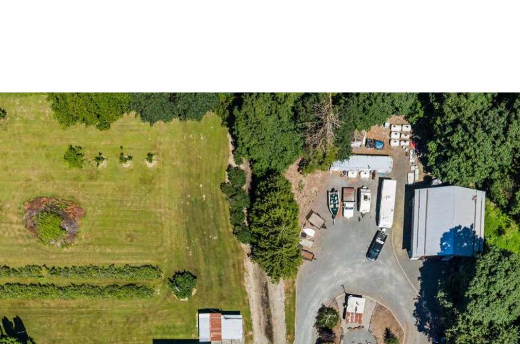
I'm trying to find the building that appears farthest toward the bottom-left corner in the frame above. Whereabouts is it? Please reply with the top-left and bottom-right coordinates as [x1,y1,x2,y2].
[199,313,242,341]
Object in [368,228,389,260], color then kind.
black truck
